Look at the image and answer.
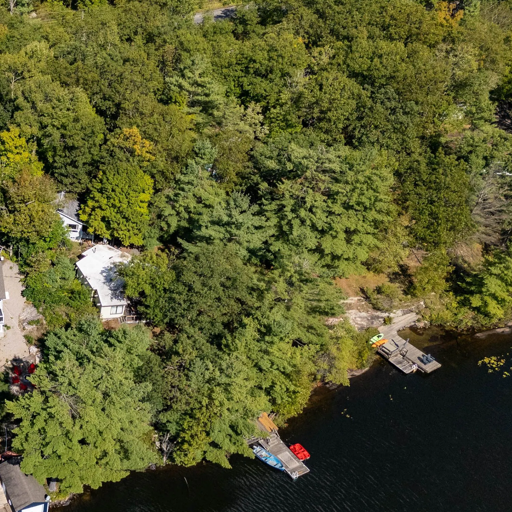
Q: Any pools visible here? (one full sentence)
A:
No, no pool is visible in the view.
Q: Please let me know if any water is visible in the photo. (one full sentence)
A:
Yes, there is water in the image.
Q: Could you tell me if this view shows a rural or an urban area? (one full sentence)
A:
From above, the setting appears rural.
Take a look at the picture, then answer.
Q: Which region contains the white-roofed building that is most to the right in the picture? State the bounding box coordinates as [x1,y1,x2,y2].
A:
[78,244,134,324]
